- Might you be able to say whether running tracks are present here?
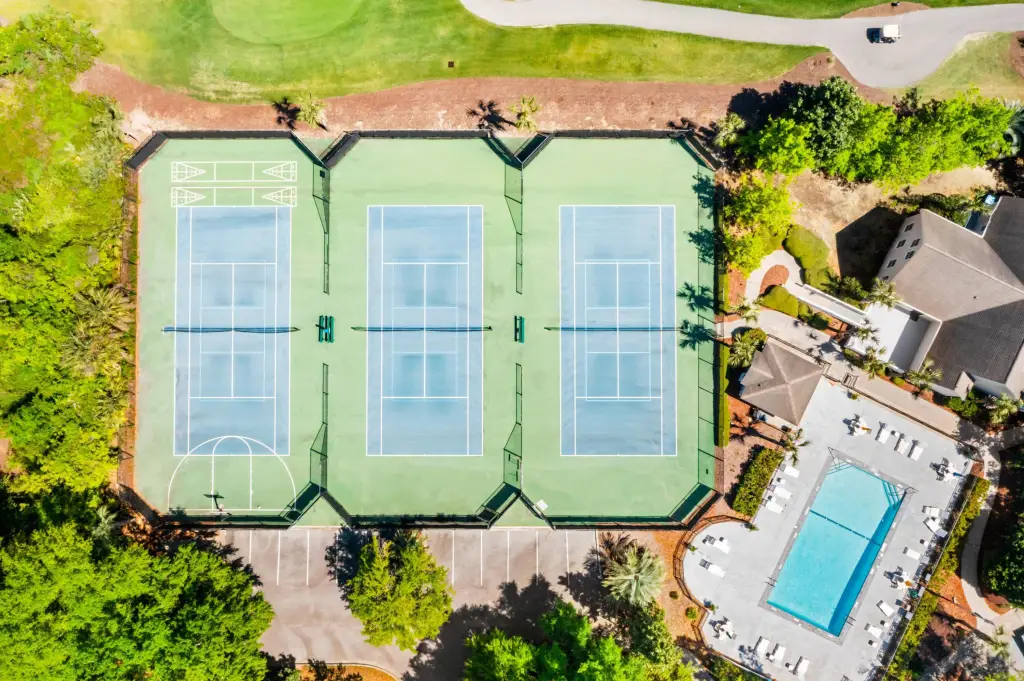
No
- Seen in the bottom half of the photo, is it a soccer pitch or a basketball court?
basketball court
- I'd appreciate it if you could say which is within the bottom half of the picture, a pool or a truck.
pool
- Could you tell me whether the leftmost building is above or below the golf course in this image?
below it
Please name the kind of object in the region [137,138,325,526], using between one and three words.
tennis court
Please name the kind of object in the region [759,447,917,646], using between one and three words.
swimming pool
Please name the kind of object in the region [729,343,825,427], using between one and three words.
building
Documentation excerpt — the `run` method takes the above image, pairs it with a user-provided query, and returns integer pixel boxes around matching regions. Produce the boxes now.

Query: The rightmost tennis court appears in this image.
[521,138,715,526]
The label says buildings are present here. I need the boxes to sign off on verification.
[868,195,1024,402]
[729,343,825,427]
